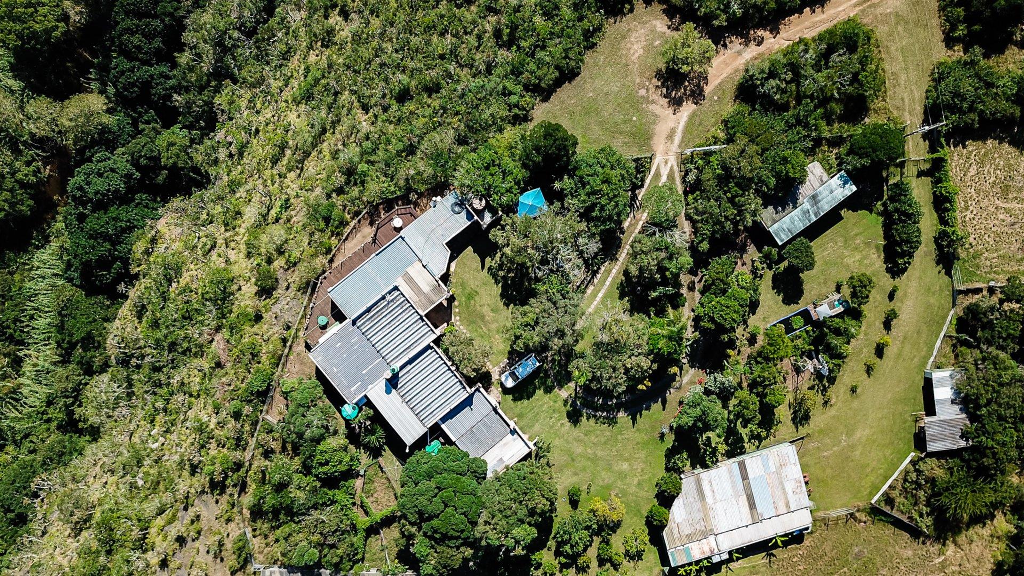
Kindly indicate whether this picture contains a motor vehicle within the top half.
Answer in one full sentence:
No, there's no motor vehicle to be seen within the top half.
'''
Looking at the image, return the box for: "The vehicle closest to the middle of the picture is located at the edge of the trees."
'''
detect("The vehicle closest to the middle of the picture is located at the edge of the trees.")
[497,349,545,390]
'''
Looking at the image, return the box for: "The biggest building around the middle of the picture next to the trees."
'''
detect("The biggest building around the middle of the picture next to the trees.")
[310,190,536,476]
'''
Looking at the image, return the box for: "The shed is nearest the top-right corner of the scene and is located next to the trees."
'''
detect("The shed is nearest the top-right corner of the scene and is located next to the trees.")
[756,162,857,246]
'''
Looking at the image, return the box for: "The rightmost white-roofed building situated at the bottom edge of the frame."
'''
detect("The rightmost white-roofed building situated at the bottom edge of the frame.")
[662,442,813,568]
